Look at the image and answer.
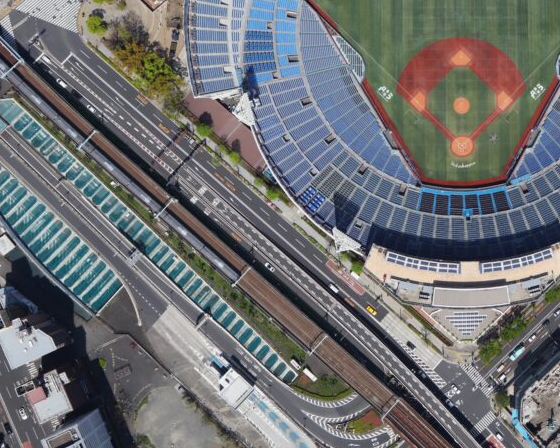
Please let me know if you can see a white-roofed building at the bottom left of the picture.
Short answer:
Yes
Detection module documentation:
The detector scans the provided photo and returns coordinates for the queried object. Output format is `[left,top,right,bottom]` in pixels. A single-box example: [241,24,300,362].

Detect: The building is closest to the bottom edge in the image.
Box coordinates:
[41,397,130,448]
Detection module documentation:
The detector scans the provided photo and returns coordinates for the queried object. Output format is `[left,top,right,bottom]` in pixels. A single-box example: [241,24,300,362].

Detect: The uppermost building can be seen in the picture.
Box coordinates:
[0,233,19,257]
